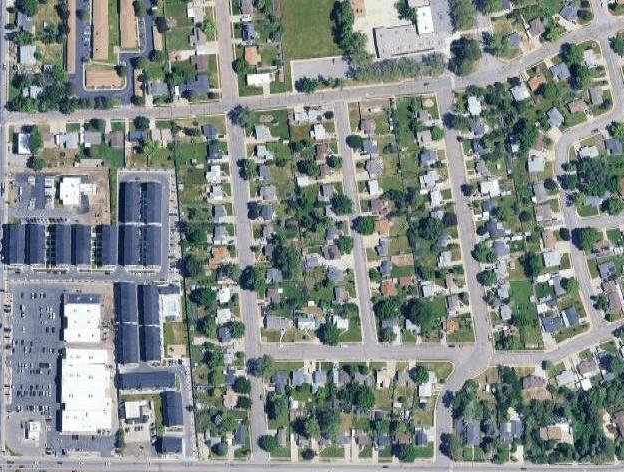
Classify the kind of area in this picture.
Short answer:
residential area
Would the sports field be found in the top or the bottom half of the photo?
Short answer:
top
